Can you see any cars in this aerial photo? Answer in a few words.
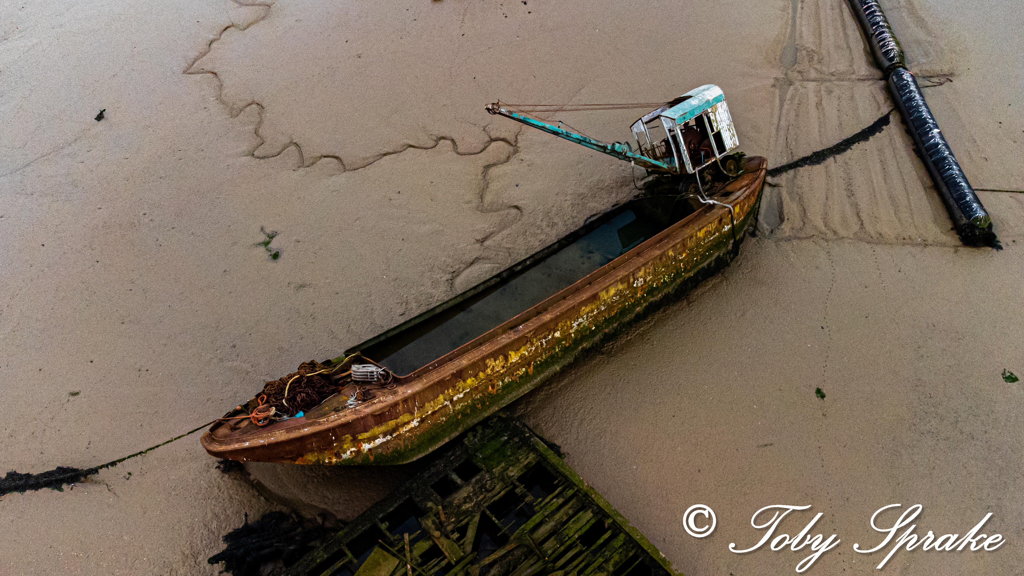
No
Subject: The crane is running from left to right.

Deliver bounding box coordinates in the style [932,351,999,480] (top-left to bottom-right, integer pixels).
[483,87,740,201]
